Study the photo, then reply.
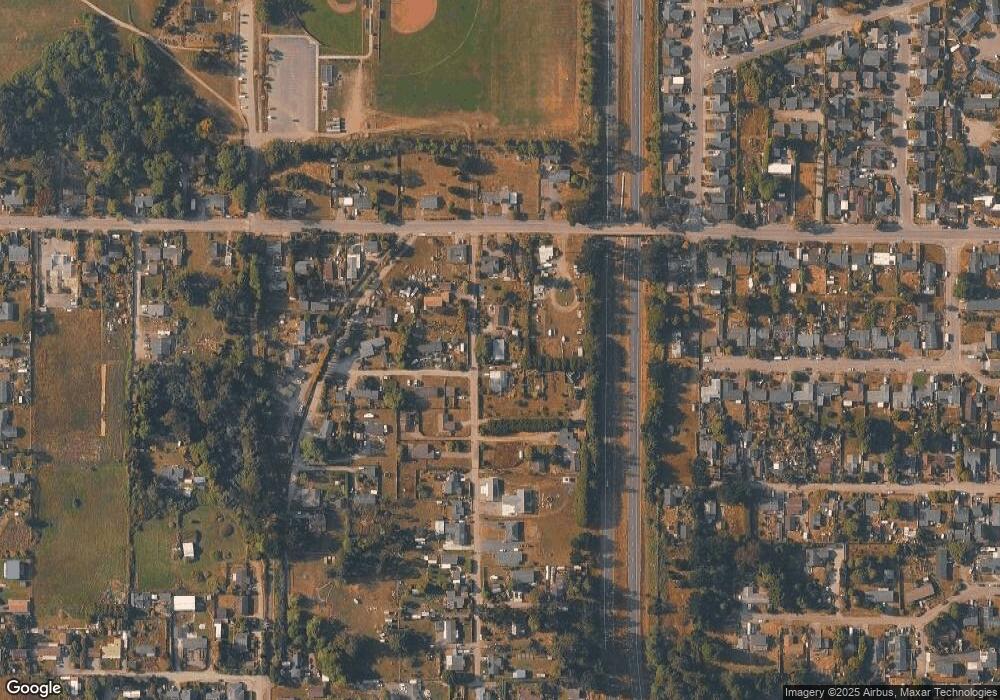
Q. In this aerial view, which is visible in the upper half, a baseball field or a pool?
baseball field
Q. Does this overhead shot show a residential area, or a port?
residential area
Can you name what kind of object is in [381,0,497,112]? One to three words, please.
baseball field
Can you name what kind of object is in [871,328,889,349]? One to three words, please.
house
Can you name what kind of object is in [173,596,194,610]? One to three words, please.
house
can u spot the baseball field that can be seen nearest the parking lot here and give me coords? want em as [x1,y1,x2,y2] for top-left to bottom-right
[301,0,367,54]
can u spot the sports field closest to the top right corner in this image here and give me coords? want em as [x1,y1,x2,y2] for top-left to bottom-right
[501,0,575,128]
